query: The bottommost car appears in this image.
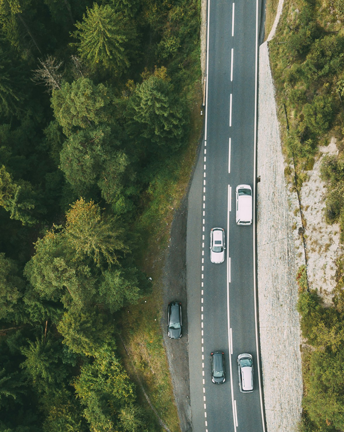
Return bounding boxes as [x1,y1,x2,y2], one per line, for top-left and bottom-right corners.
[210,351,226,383]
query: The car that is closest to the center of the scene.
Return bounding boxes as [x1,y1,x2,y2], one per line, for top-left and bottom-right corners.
[209,227,226,263]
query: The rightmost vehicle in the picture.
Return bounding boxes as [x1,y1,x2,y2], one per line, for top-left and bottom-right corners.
[237,185,254,225]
